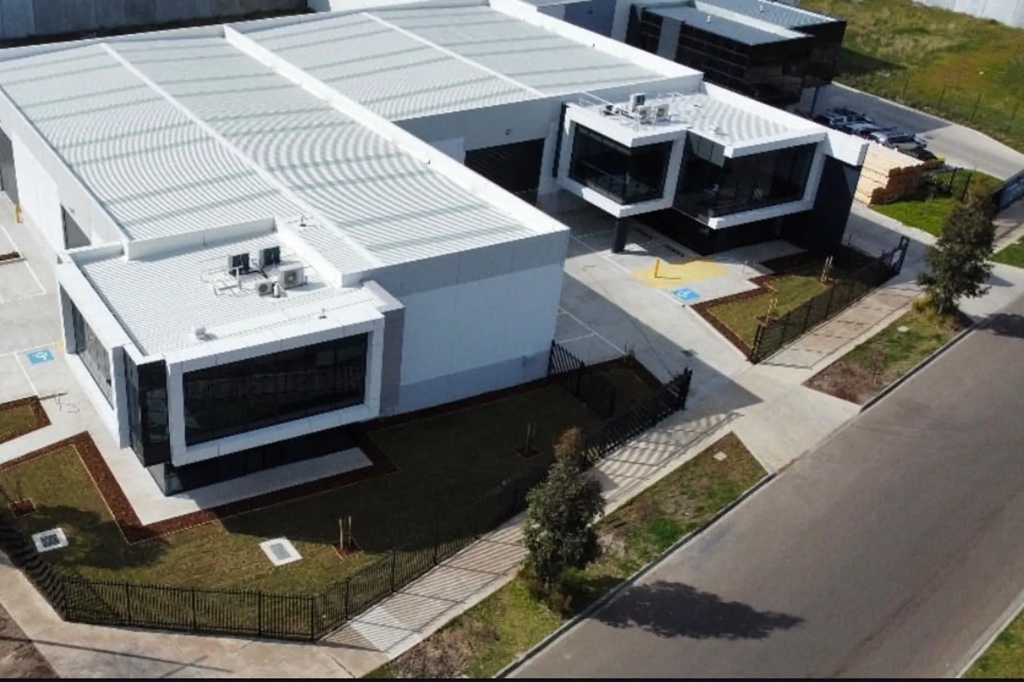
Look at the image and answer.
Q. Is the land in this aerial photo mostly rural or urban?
urban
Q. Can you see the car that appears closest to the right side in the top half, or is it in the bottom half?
top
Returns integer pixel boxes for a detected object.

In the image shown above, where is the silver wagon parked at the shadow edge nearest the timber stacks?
[874,124,945,159]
